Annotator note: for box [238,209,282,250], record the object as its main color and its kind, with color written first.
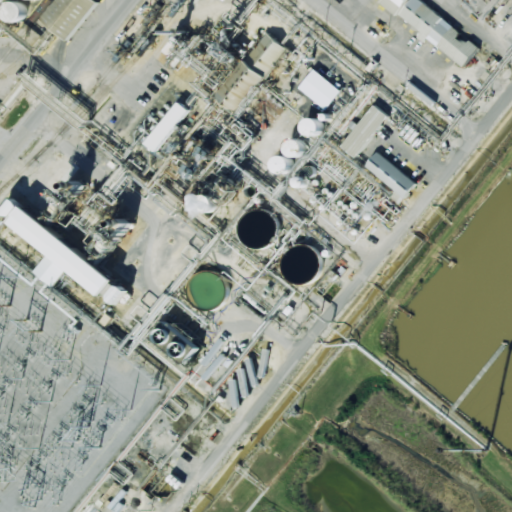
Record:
black storage tank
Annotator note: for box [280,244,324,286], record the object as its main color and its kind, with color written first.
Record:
black storage tank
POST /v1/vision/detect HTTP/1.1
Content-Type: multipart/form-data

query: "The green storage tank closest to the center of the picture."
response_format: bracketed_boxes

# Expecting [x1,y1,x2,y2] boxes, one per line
[186,269,231,310]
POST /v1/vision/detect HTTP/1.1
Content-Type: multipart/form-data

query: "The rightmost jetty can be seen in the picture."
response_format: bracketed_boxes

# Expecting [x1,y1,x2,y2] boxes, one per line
[449,340,508,413]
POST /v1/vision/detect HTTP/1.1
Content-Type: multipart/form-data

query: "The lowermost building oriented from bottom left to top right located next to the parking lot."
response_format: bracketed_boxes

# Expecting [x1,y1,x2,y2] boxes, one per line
[144,102,194,151]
